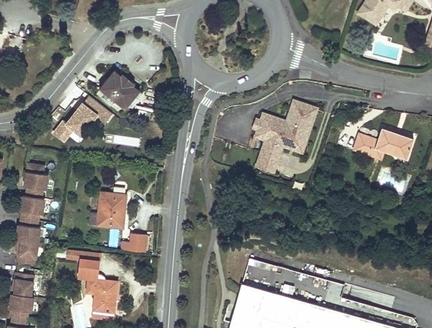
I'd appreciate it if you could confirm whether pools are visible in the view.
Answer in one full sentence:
Yes, there's a pool here.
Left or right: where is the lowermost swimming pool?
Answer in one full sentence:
The lowermost swimming pool appears in the left half of the scene.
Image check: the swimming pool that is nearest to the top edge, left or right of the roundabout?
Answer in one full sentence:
You can see the swimming pool that is nearest to the top edge positioned to the right of the roundabout.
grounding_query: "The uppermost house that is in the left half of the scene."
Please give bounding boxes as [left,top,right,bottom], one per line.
[99,70,140,110]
